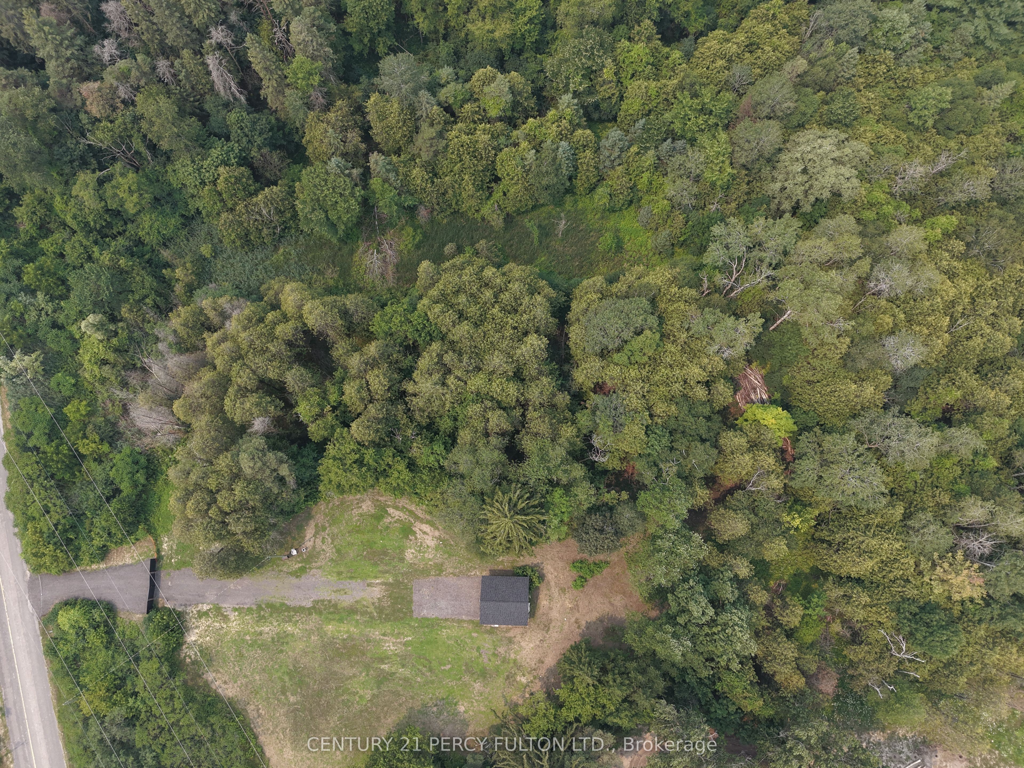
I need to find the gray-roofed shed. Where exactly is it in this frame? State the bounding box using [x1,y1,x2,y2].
[480,575,529,628]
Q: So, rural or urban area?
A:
rural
